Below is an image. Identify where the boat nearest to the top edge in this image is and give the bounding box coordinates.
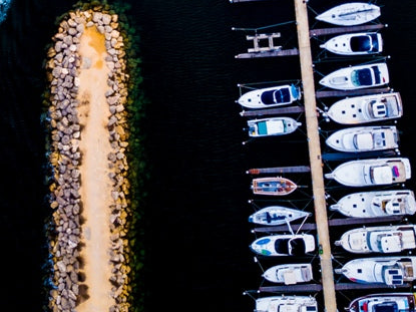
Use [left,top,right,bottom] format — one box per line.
[316,4,381,26]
